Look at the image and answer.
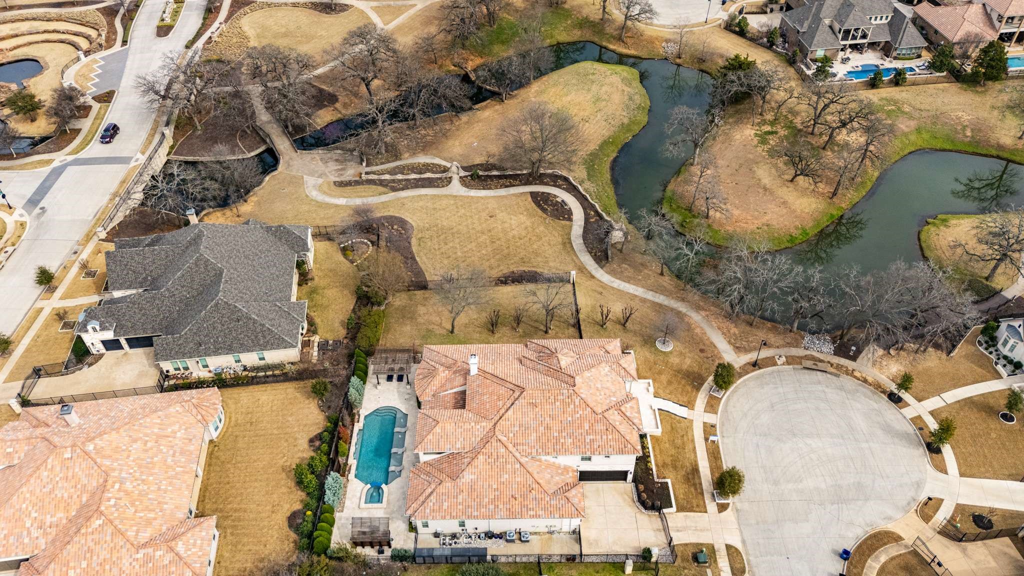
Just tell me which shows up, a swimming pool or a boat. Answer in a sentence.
It is a swimming pool that can be seen here.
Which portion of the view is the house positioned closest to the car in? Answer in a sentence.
You can find the house positioned closest to the car in the left area of the picture.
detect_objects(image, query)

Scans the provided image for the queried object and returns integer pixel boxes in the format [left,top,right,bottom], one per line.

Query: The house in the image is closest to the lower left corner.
[0,385,225,576]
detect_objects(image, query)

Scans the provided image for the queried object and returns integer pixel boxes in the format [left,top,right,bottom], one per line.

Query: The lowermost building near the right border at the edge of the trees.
[994,294,1024,361]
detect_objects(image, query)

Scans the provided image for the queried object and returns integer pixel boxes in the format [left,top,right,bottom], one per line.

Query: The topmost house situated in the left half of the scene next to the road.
[68,204,313,375]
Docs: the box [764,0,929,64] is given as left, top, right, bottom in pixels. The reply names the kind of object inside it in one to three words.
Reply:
house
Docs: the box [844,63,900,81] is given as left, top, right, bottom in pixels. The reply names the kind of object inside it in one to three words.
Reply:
swimming pool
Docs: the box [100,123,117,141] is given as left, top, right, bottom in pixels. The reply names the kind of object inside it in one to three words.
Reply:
car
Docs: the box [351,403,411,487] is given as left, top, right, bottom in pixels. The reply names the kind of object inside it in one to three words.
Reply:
swimming pool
